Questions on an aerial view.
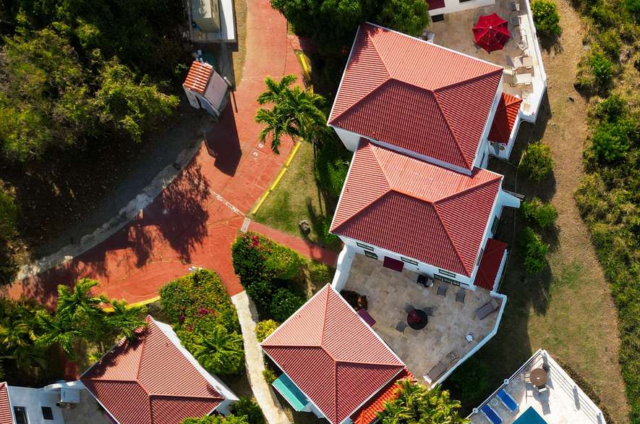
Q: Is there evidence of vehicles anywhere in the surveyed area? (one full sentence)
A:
No, I can see no vehicle in this picture.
